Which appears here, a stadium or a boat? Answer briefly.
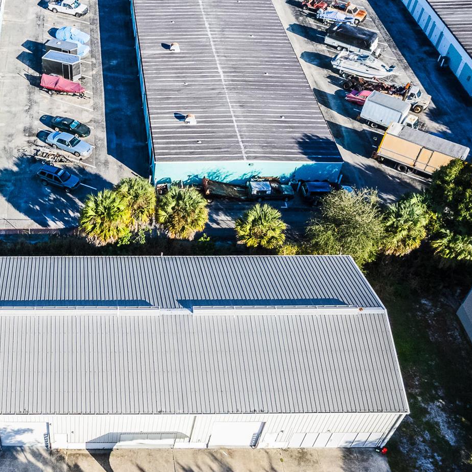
boat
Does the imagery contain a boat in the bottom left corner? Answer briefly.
No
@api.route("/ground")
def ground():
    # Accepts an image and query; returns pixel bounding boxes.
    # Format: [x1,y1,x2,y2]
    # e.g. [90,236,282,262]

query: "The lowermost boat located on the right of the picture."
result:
[326,50,398,83]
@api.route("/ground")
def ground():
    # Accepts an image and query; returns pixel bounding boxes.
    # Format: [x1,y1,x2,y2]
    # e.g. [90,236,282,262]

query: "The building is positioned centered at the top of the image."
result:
[130,0,346,185]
